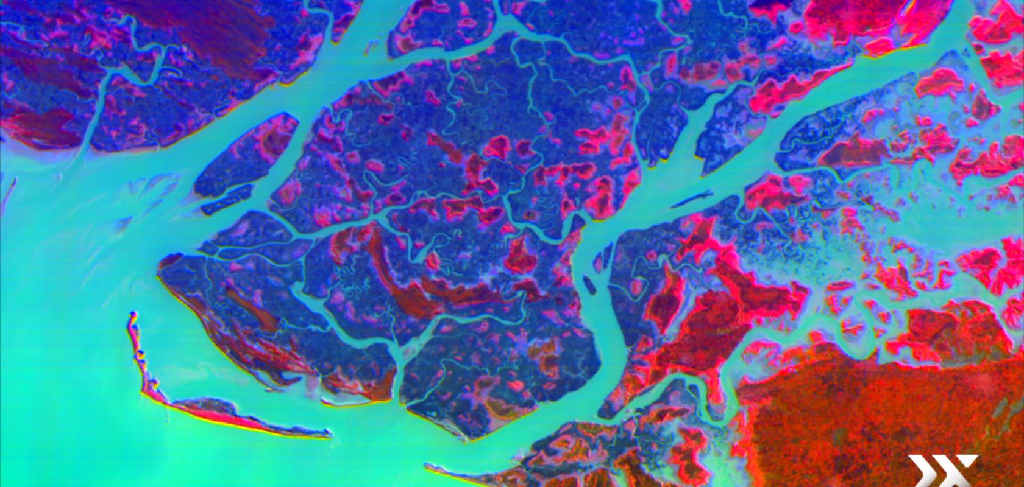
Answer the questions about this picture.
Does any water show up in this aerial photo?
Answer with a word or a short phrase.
Yes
